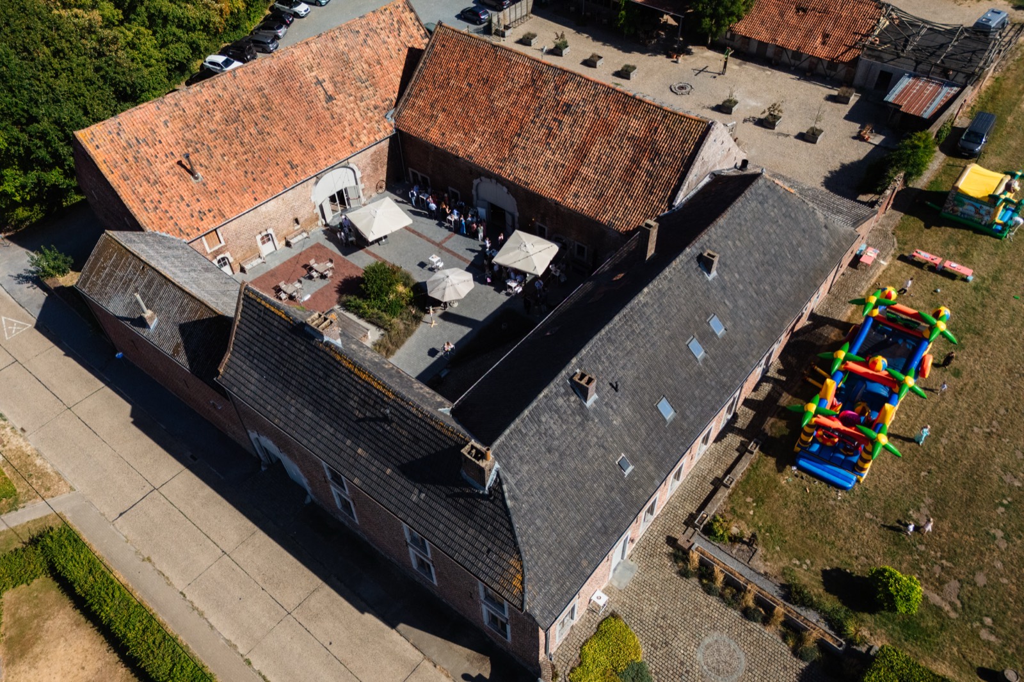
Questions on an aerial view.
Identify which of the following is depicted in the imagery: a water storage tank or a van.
van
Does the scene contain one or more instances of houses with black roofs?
Yes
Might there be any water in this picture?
No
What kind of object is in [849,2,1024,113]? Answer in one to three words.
barn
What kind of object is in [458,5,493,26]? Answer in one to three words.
car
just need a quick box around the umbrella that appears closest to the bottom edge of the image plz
[426,268,474,309]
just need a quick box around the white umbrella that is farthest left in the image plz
[341,197,413,250]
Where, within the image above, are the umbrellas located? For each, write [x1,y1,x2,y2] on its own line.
[426,268,474,309]
[341,197,413,250]
[492,230,559,284]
